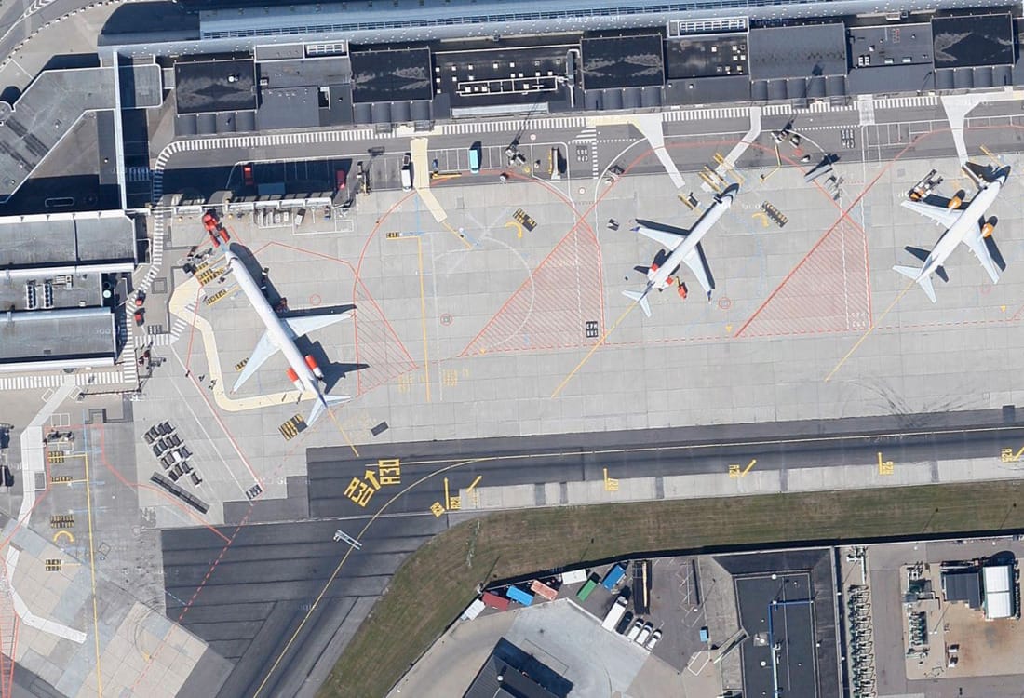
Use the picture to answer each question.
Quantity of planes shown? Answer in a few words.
3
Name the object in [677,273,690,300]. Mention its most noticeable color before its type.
red vehicle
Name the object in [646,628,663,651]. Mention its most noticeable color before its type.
white car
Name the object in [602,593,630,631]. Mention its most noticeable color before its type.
white truck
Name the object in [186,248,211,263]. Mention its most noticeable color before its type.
gray work vehicle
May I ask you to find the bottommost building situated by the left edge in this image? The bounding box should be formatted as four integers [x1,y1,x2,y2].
[0,307,117,372]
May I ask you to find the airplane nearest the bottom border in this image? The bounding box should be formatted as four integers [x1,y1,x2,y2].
[226,253,353,424]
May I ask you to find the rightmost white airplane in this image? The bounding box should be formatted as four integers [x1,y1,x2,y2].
[894,166,1010,302]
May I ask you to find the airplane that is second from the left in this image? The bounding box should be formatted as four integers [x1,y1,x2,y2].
[623,185,739,316]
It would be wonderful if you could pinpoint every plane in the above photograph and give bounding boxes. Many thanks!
[226,253,353,424]
[894,166,1010,302]
[623,185,739,316]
